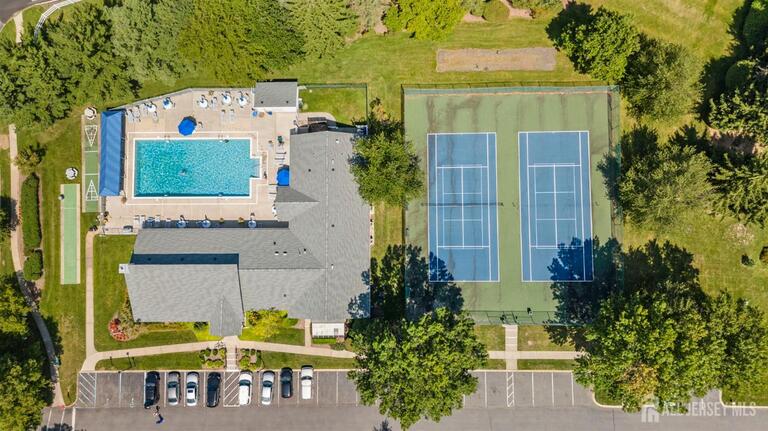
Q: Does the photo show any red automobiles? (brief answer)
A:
No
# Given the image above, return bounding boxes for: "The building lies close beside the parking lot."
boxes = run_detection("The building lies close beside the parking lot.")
[118,132,370,338]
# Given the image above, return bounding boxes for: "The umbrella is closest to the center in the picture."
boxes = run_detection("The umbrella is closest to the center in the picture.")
[275,169,289,186]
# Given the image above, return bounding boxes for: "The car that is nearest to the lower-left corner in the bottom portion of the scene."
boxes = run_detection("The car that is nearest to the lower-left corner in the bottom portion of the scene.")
[143,374,160,406]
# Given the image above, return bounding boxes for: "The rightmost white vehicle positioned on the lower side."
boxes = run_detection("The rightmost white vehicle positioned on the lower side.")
[298,367,314,401]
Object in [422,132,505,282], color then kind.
blue tennis court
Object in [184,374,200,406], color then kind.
white car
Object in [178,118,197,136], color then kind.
blue umbrella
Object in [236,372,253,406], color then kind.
white car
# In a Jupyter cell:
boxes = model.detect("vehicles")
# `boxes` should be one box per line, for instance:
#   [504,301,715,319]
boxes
[260,373,275,405]
[184,374,200,406]
[143,374,160,406]
[236,372,253,406]
[166,373,182,405]
[279,368,293,400]
[298,367,314,401]
[205,375,221,407]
